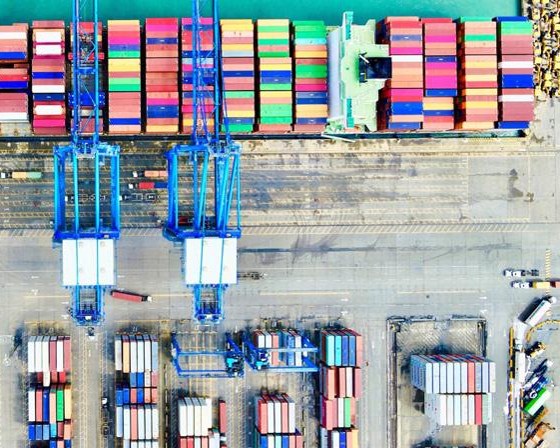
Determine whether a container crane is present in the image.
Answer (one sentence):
Yes, the photo shows a container crane.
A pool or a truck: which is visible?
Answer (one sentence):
Looking from above, you can make out a truck.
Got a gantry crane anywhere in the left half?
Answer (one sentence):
Yes, I can see a gantry crane in the left half.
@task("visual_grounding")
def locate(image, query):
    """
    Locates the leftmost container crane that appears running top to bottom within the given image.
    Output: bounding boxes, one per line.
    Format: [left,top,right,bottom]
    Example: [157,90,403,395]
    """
[51,0,122,327]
